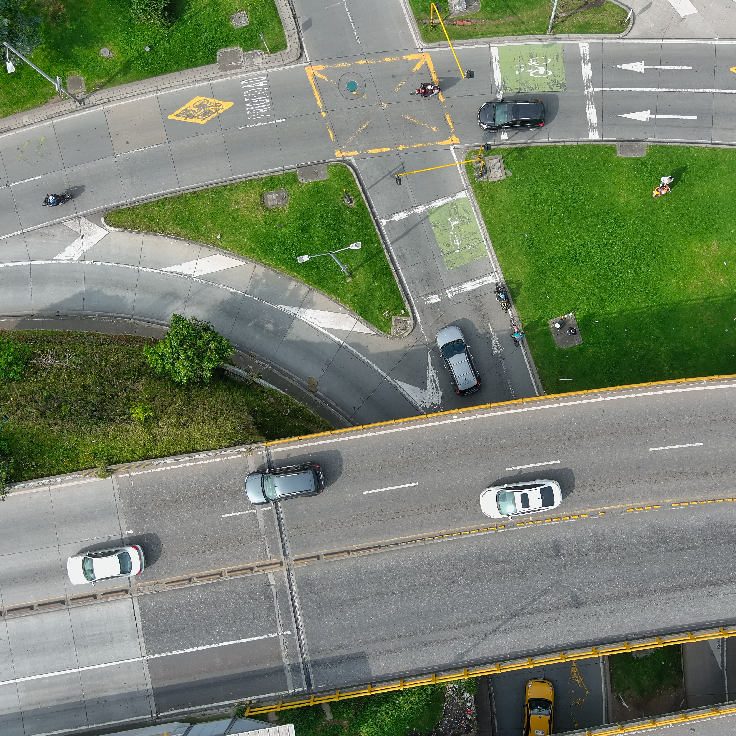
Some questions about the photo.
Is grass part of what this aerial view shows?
Yes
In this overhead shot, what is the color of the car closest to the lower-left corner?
white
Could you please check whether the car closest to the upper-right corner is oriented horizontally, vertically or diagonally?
horizontally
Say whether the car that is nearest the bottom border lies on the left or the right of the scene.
right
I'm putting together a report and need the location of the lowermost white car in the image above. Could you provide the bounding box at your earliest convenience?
[67,542,149,587]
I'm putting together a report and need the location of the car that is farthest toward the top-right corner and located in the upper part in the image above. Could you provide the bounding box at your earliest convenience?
[477,96,547,132]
